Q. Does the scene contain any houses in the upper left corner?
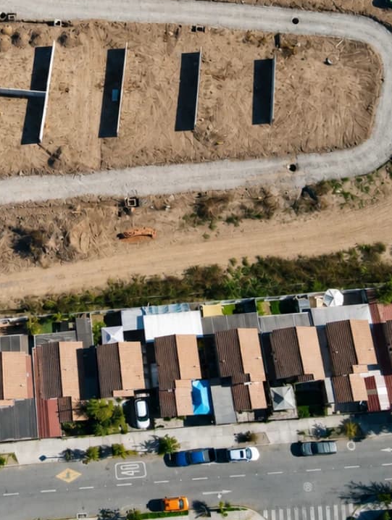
No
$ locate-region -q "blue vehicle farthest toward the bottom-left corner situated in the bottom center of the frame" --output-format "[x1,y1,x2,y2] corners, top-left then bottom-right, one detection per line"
[174,449,214,467]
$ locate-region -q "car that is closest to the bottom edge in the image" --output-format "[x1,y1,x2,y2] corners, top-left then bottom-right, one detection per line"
[160,497,191,513]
